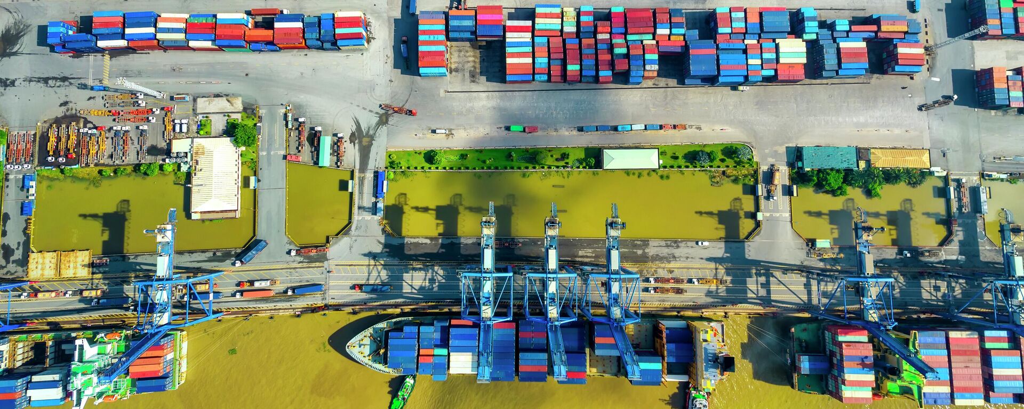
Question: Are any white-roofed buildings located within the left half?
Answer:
Yes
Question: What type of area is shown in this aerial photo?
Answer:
port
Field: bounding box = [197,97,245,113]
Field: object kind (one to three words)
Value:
building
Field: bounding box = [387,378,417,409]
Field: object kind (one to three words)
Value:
boat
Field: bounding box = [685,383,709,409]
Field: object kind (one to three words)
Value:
boat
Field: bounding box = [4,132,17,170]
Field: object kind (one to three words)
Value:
vehicle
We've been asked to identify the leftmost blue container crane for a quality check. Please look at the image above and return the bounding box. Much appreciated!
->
[0,281,45,335]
